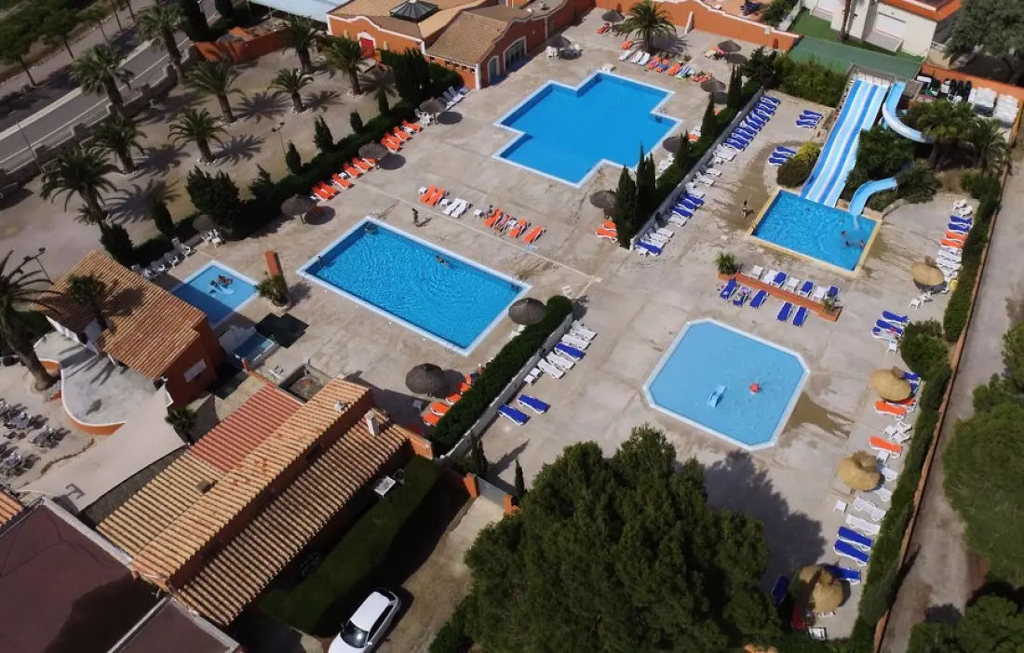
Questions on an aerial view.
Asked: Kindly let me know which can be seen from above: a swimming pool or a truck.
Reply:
swimming pool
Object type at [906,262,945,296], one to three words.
umbrella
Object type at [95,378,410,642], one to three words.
house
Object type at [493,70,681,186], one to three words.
swimming pool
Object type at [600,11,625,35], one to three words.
umbrella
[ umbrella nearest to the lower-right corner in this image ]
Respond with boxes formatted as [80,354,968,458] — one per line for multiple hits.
[796,571,846,617]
